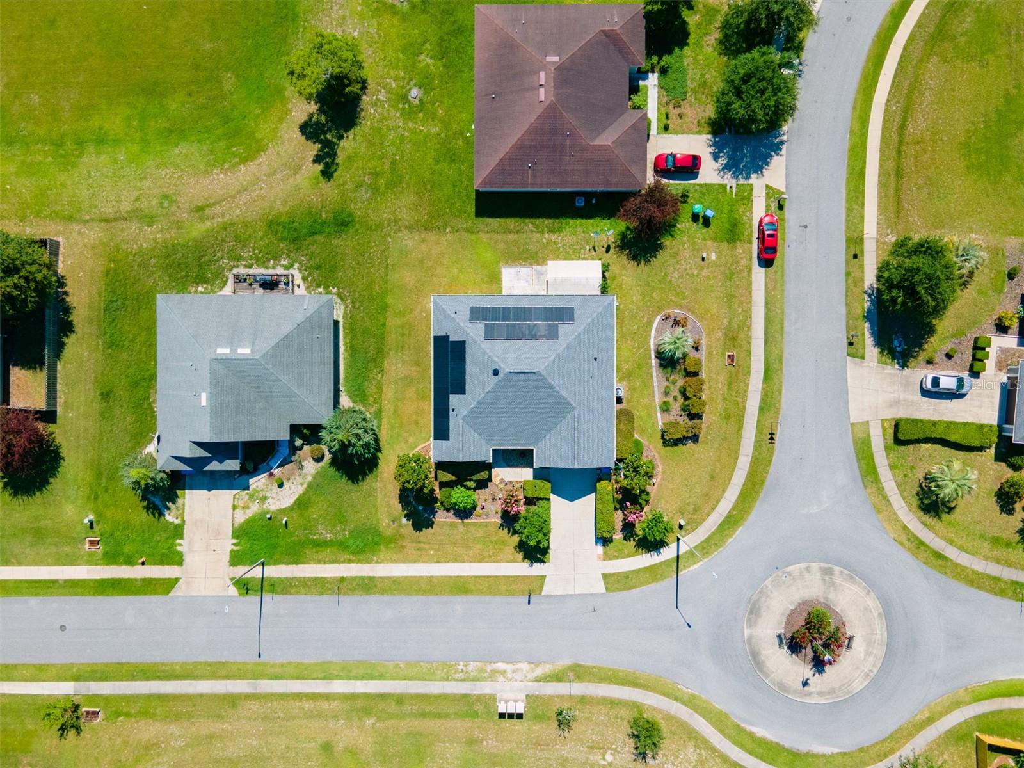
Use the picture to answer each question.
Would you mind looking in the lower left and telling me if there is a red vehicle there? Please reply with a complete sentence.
No, I see no red vehicle in the lower left.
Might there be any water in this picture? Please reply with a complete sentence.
No, the picture contains no water.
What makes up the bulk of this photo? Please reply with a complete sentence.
Most of the picture is covered by grass.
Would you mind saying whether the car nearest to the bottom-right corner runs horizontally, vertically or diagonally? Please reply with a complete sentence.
From this overhead view, the car nearest to the bottom-right corner appears to run horizontally.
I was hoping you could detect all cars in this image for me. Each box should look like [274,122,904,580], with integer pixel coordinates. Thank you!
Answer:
[756,213,781,260]
[921,373,971,395]
[654,149,701,173]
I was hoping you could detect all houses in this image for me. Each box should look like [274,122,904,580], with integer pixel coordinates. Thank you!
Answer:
[474,4,647,192]
[1001,358,1024,444]
[431,261,623,472]
[0,327,10,406]
[156,293,336,471]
